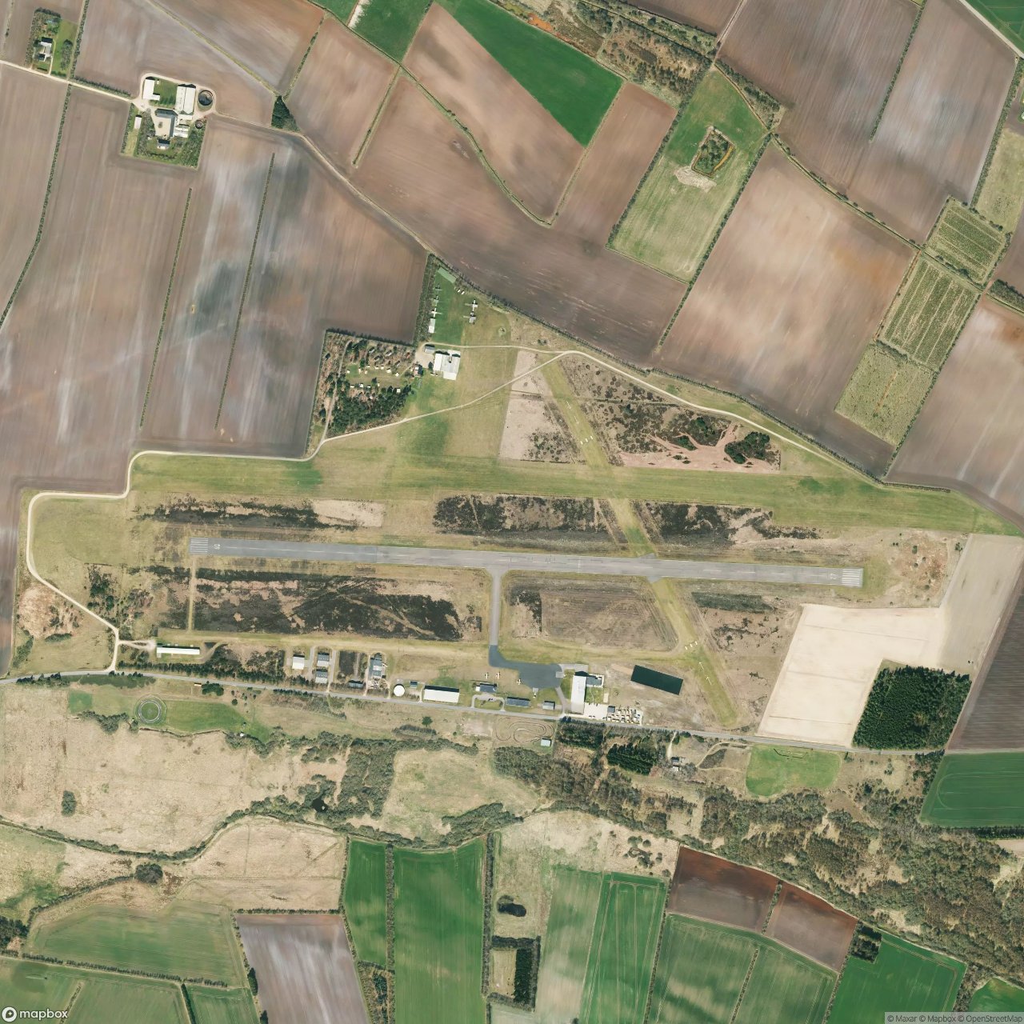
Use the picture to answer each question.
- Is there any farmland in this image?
Yes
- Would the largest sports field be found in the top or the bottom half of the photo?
bottom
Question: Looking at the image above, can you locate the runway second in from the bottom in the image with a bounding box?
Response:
[188,537,863,587]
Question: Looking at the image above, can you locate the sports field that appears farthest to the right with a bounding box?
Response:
[746,746,840,797]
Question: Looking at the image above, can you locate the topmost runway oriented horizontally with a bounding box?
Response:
[133,464,1006,530]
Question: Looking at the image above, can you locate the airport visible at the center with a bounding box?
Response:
[24,267,1019,731]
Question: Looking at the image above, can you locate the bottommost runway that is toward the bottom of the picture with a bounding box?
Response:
[650,581,733,725]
